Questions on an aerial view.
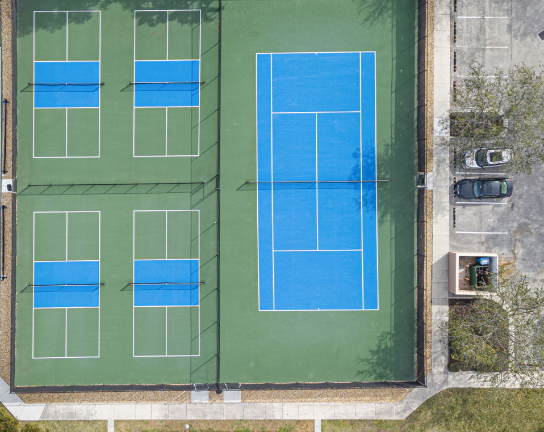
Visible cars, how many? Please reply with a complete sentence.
Looking from above, you can make out 2 cars.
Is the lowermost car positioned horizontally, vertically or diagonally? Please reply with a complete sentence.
The lowermost car is laid out horizontally.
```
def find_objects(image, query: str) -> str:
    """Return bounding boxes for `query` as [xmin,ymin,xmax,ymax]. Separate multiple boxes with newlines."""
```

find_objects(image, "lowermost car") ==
[458,177,512,201]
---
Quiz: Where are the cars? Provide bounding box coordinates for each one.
[458,177,512,201]
[462,146,514,171]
